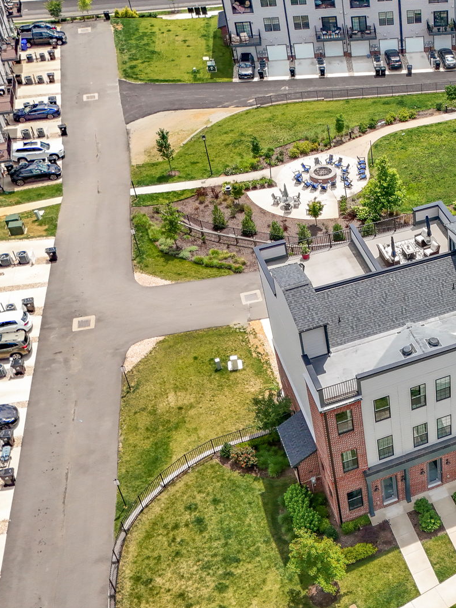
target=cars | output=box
[13,138,63,162]
[14,24,70,48]
[16,16,60,32]
[0,329,32,361]
[6,159,63,187]
[381,49,402,72]
[0,311,34,333]
[10,102,62,126]
[0,406,20,430]
[234,53,256,79]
